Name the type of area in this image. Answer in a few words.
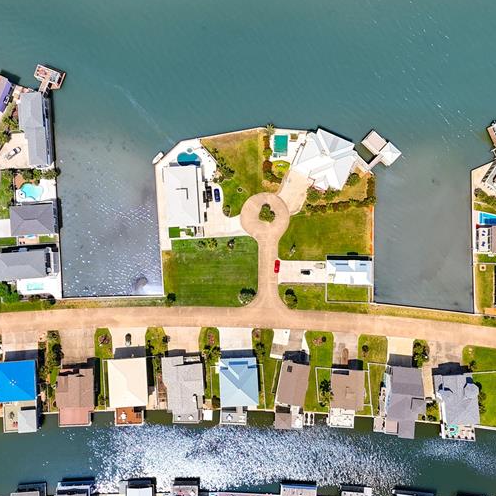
residential area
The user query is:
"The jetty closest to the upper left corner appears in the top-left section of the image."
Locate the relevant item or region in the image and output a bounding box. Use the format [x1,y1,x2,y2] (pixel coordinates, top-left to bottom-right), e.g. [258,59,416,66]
[33,64,67,94]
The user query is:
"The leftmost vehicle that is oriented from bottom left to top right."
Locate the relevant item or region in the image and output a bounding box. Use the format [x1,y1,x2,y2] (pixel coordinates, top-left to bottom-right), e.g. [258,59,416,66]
[6,147,22,160]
